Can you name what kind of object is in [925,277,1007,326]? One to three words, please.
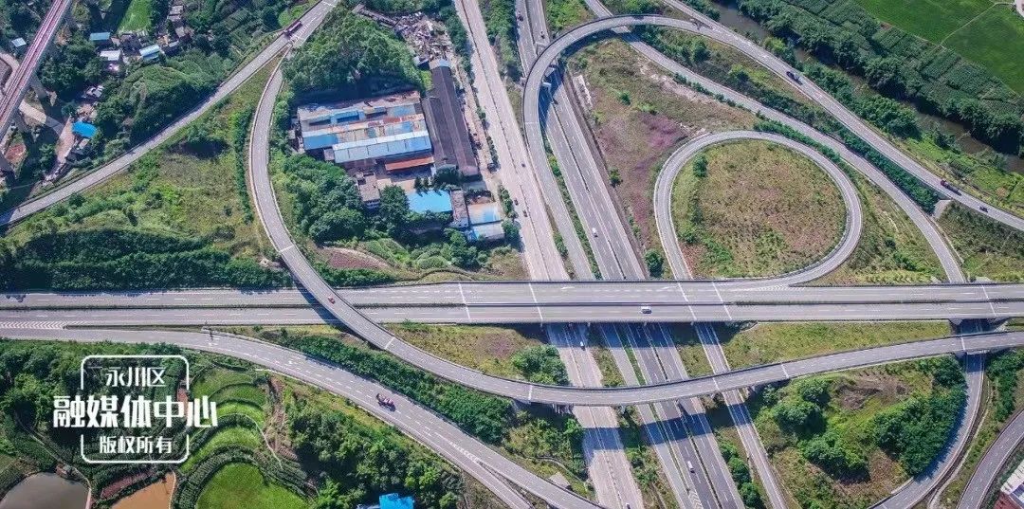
overpass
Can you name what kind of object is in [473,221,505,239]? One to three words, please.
shed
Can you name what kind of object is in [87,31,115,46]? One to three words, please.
house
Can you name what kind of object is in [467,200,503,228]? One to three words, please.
building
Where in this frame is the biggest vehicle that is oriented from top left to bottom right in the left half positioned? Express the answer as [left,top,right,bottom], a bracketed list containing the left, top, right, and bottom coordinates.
[377,392,394,407]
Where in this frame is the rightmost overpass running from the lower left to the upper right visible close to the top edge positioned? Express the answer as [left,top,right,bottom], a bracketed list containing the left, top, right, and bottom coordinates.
[523,13,655,153]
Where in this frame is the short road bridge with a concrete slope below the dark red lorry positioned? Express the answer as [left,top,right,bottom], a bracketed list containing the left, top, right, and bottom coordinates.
[890,152,952,219]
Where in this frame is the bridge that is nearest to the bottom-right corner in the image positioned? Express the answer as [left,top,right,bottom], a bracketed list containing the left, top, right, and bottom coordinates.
[941,331,1004,353]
